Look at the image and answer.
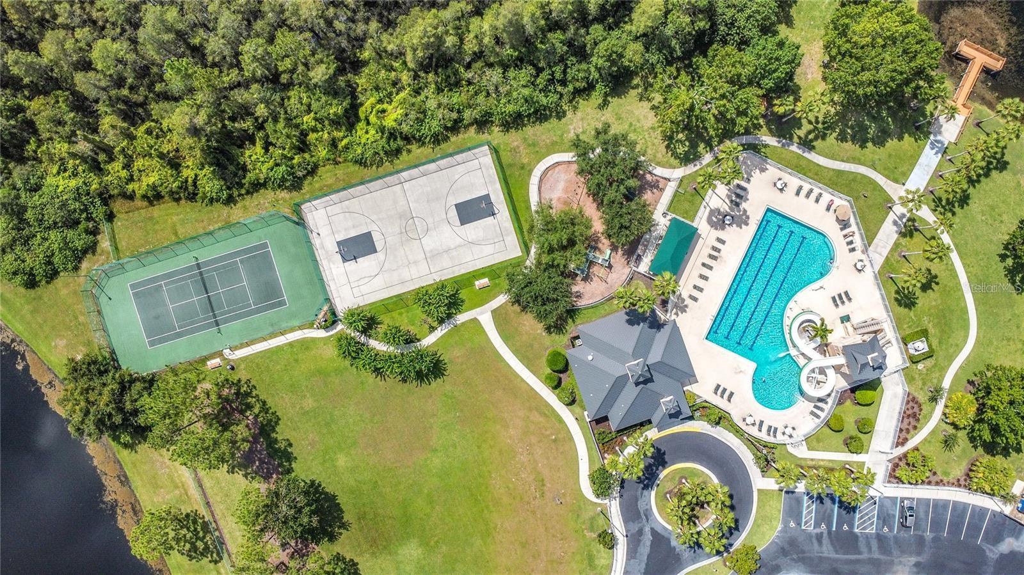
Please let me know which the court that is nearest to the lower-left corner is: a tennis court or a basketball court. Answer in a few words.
tennis court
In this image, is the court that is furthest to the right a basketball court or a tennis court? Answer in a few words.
basketball court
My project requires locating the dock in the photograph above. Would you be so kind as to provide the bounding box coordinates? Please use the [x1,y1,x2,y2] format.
[941,37,1011,142]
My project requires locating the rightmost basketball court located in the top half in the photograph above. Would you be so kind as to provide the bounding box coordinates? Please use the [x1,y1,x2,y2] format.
[299,146,523,313]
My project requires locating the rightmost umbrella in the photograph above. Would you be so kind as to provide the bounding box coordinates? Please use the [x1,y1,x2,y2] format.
[835,203,852,220]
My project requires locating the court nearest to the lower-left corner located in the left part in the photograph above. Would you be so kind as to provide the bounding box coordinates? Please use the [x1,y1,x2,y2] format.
[93,209,329,373]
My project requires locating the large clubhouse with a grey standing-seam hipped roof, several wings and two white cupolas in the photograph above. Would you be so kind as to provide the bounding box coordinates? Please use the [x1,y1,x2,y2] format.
[567,306,696,432]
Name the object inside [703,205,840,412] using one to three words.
swimming pool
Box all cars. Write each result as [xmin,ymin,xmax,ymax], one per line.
[899,499,917,530]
